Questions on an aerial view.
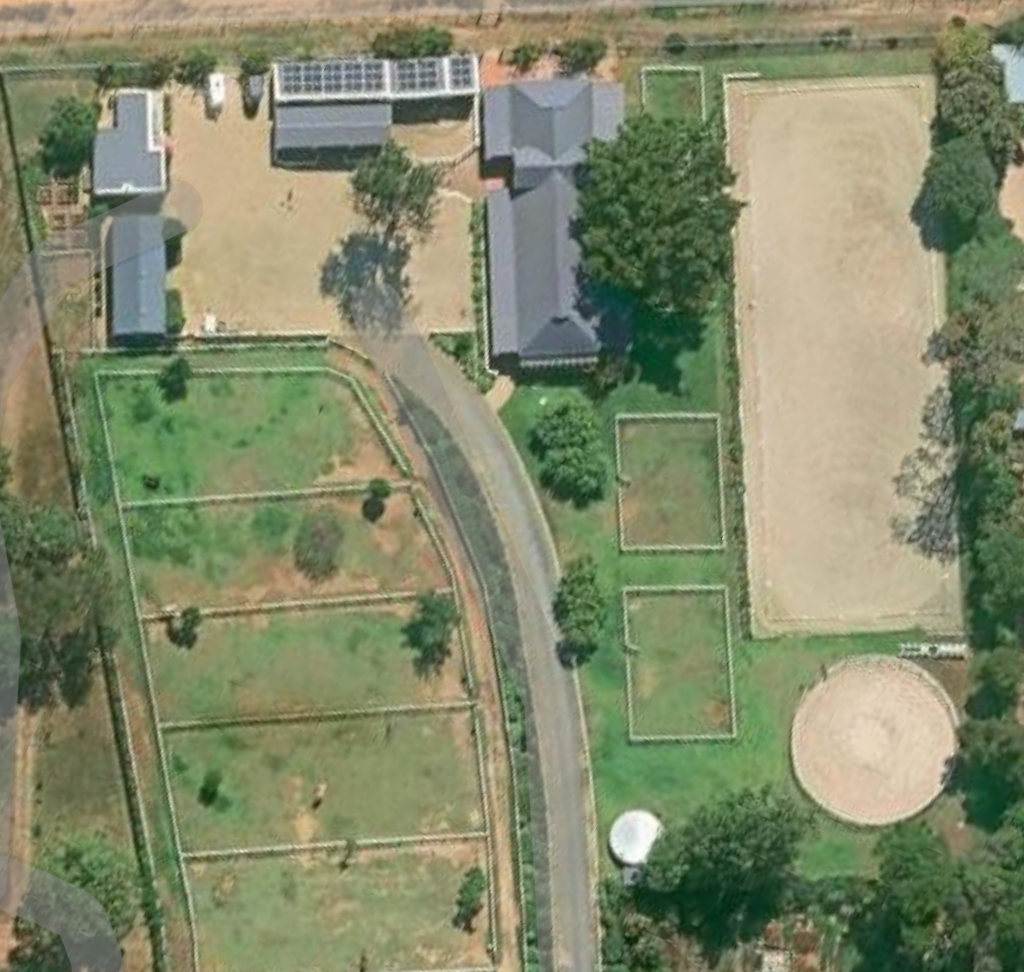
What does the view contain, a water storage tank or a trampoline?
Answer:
water storage tank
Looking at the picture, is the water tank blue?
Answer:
No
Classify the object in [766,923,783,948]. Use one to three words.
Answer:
shed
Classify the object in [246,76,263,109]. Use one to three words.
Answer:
car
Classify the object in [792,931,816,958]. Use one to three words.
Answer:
shed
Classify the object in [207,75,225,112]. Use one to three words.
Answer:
vehicle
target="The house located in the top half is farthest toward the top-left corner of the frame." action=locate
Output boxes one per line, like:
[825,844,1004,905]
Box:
[94,89,168,205]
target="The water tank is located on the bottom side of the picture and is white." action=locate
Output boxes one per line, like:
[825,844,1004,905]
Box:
[609,811,663,867]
